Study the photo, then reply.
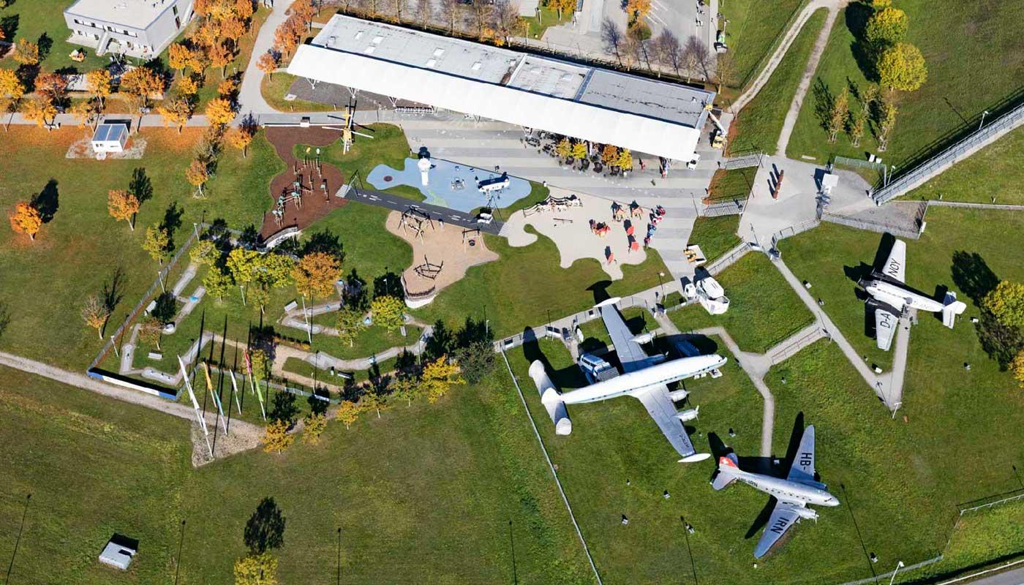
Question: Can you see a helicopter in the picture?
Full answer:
Yes, there's a helicopter down there.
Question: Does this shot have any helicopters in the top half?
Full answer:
Yes, the scene does show a helicopter in the top half.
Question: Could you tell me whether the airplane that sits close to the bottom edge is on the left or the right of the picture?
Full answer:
The airplane that sits close to the bottom edge sits on the right side.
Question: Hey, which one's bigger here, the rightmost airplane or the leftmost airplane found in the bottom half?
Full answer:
The larger object is the leftmost airplane found in the bottom half, with the rightmost airplane being the smaller of the pair.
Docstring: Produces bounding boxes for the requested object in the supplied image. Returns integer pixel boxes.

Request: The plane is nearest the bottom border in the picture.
[720,427,839,561]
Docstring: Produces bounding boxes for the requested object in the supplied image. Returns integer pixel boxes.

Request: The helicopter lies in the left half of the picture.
[318,116,371,166]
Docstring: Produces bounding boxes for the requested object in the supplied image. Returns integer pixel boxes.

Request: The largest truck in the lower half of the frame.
[575,350,621,382]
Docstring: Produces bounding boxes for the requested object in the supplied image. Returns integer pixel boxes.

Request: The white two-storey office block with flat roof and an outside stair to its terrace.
[52,0,196,70]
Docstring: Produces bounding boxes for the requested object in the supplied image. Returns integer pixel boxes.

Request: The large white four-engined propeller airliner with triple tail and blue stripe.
[534,296,726,463]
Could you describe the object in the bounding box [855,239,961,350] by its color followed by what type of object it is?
white airplane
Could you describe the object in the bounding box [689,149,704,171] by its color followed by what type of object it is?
white vehicle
